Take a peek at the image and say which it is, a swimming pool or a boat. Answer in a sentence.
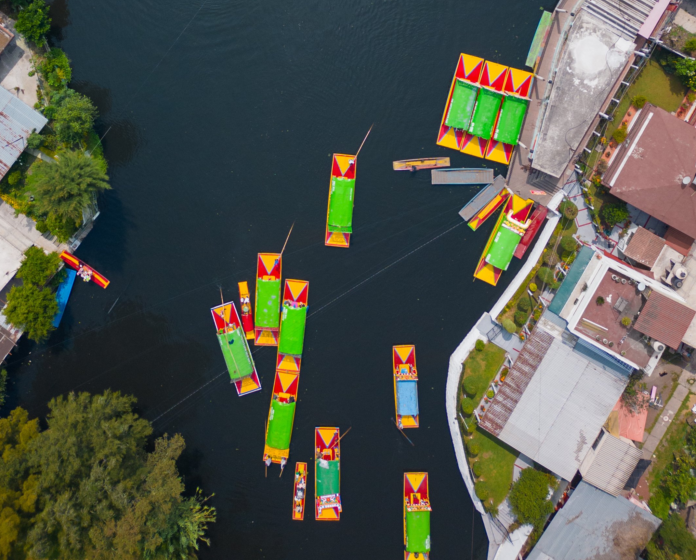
Looking from above, you can make out a boat.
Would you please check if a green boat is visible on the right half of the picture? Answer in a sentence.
Yes, on the right half of the picture there is a green boat.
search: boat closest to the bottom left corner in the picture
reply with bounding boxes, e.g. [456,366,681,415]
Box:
[50,267,76,328]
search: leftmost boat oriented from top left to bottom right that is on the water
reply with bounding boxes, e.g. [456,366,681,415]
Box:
[61,250,111,290]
